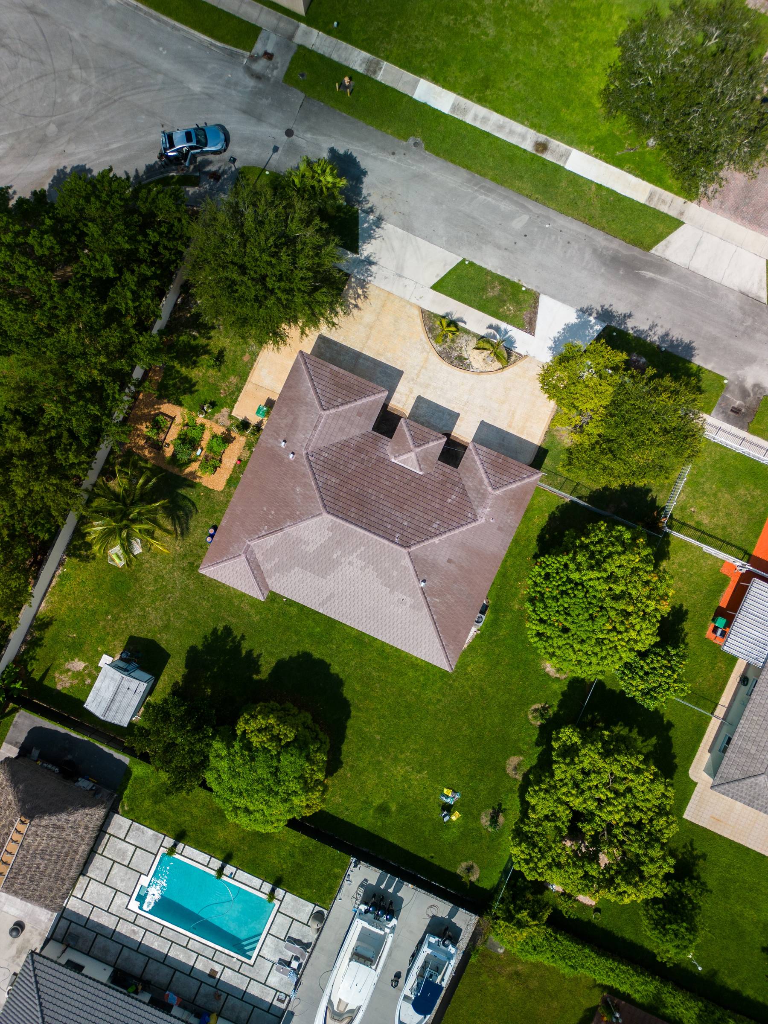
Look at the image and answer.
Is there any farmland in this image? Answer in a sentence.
No, there's no farmland in this view.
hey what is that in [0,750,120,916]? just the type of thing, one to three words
shed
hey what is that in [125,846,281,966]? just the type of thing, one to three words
swimming pool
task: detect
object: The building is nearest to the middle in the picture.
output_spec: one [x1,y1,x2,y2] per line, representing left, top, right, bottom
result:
[198,349,543,674]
